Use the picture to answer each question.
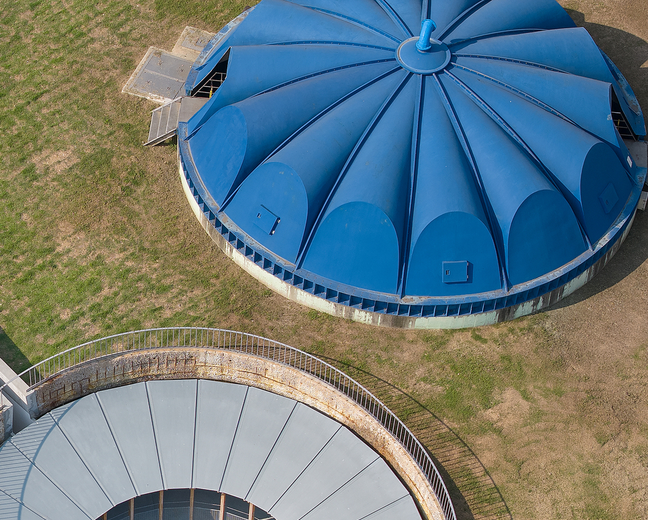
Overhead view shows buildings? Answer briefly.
No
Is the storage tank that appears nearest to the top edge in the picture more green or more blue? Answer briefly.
blue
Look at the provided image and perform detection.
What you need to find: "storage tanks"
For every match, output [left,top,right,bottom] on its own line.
[179,0,647,329]
[0,342,453,520]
